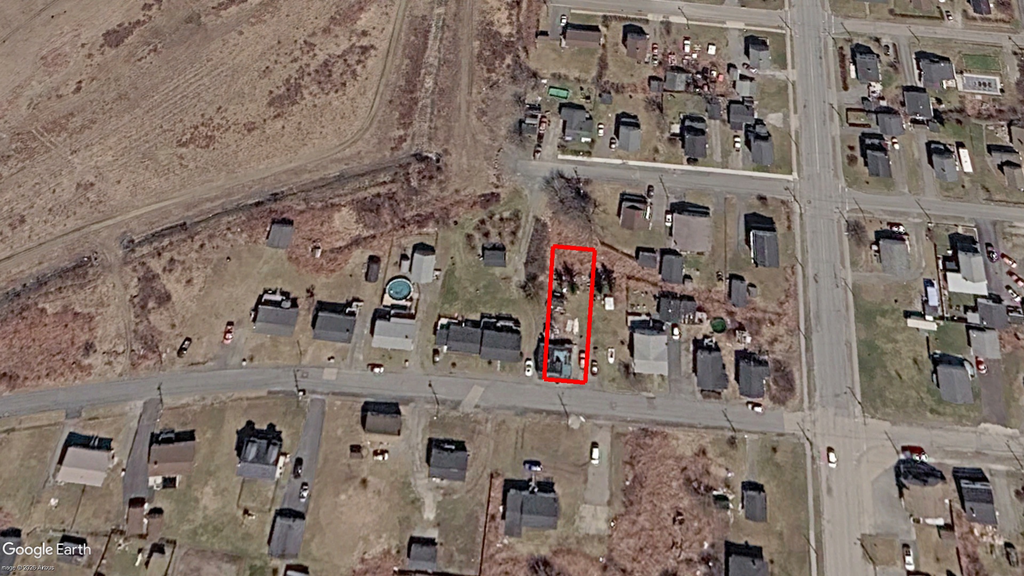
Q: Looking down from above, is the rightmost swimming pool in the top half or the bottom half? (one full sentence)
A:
The rightmost swimming pool is in the top half of the image.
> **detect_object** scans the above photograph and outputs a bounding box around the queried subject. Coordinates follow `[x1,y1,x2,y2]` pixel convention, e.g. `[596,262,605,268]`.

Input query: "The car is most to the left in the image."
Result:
[177,337,192,358]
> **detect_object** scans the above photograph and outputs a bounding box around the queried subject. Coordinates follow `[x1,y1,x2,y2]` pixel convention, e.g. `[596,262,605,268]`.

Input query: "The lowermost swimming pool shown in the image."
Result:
[711,317,726,332]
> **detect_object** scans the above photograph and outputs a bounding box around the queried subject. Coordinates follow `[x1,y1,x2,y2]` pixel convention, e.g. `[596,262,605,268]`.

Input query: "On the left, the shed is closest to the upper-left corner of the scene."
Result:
[266,221,294,249]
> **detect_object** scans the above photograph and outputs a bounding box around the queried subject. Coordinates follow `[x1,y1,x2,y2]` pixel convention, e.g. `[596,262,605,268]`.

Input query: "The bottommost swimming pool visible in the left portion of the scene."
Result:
[382,277,418,309]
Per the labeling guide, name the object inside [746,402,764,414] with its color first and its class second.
white vehicle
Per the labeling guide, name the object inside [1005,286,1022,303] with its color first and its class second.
white vehicle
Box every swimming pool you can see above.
[549,87,568,98]
[711,317,726,332]
[960,75,1001,95]
[382,277,418,309]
